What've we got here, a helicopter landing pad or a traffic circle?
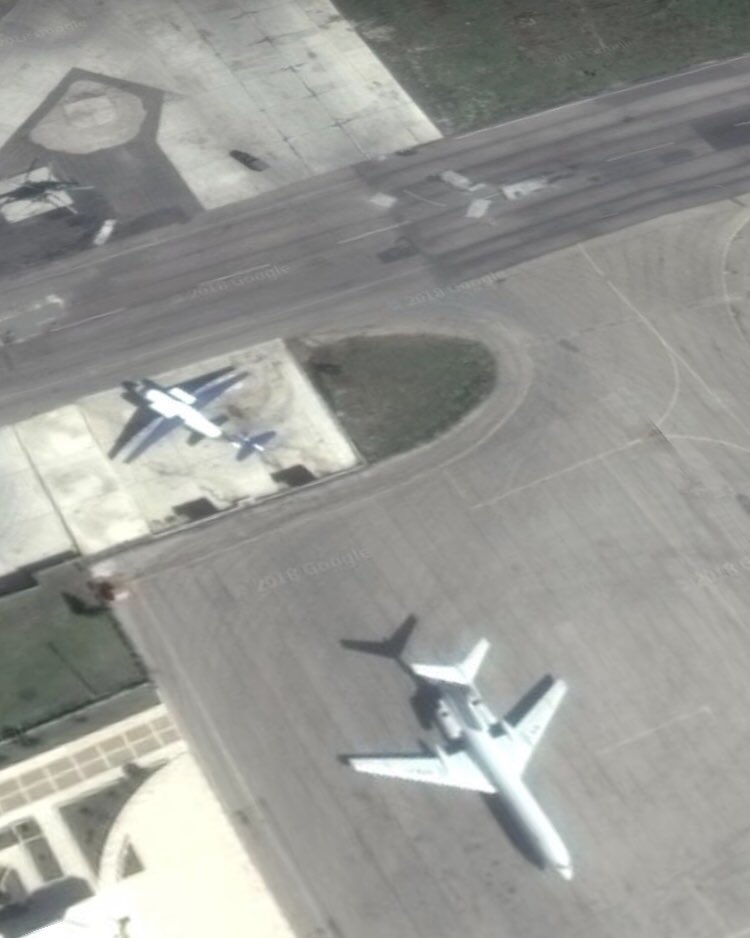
helicopter landing pad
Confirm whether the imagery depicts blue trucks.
No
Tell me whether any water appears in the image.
No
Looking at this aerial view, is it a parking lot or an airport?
airport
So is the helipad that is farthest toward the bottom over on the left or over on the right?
left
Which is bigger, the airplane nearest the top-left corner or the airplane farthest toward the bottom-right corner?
the airplane farthest toward the bottom-right corner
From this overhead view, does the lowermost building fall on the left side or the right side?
left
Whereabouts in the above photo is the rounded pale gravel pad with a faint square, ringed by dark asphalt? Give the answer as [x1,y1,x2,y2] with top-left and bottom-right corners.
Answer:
[31,80,145,152]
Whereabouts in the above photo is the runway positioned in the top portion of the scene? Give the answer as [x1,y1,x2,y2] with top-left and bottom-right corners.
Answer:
[0,54,750,430]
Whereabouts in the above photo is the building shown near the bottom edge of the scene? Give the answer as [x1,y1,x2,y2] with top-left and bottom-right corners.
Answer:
[16,895,117,938]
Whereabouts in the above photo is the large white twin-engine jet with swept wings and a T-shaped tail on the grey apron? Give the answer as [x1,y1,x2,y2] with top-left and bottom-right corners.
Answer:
[355,640,575,878]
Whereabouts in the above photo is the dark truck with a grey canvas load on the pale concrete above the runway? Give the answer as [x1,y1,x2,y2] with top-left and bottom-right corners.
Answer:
[234,146,270,169]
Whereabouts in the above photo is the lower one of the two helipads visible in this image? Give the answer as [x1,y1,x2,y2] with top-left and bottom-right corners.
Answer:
[0,167,73,222]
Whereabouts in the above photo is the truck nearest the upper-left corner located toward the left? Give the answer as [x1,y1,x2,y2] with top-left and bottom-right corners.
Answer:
[90,215,115,243]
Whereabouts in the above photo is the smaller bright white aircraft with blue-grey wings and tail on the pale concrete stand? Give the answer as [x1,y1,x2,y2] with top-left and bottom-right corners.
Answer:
[126,371,282,467]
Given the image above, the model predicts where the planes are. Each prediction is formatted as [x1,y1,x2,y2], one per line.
[126,371,282,467]
[355,640,575,878]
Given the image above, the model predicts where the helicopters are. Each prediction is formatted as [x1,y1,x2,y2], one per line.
[0,154,92,215]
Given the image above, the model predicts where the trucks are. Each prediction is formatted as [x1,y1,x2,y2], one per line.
[234,146,270,169]
[90,215,115,243]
